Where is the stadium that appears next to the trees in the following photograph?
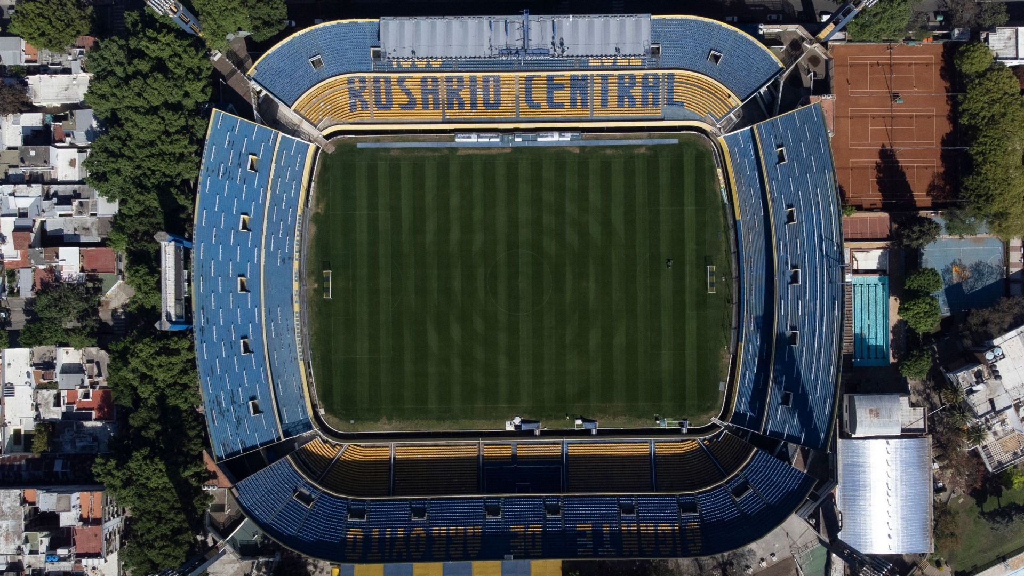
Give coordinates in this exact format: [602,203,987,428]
[192,9,845,563]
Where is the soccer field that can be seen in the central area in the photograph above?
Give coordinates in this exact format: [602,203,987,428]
[307,132,738,432]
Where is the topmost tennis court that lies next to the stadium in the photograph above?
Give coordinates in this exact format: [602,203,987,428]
[839,52,944,99]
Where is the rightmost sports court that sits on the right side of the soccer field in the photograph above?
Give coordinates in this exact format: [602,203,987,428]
[920,237,1008,316]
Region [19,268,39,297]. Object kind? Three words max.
shed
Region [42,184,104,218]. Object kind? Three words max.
house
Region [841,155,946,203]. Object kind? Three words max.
tennis court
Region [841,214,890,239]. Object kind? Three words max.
sports court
